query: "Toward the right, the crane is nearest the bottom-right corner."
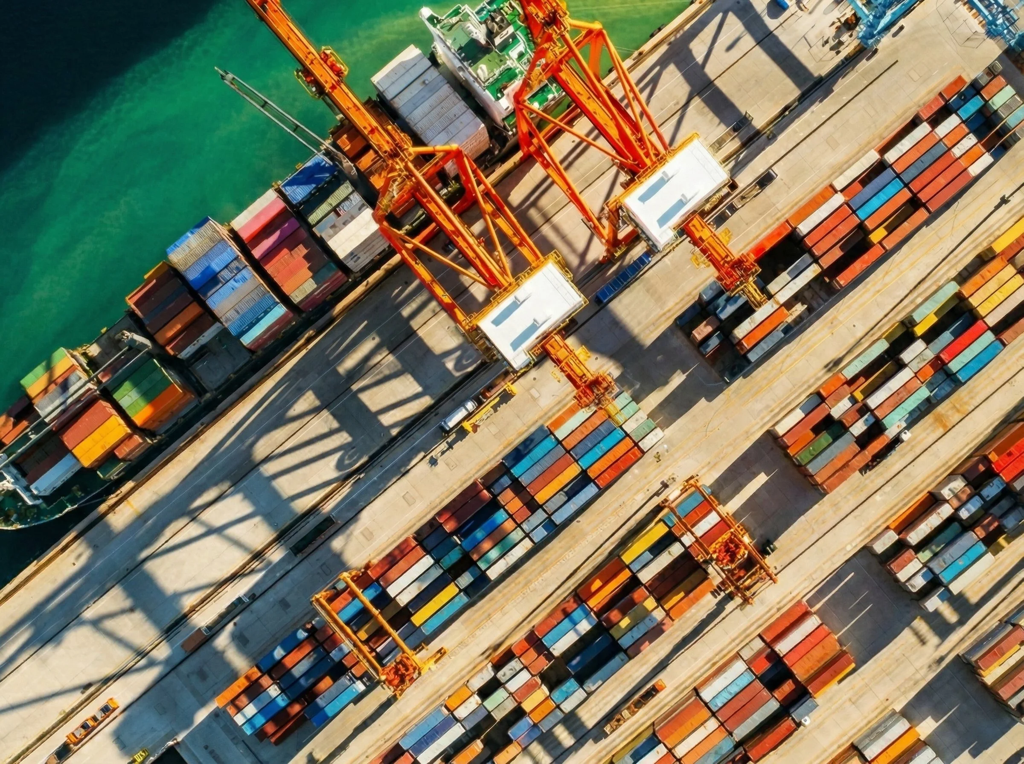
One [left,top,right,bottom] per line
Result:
[641,466,790,618]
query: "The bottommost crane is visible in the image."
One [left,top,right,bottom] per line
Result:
[300,547,456,706]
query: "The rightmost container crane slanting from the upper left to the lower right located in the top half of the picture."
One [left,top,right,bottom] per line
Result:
[506,0,777,309]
